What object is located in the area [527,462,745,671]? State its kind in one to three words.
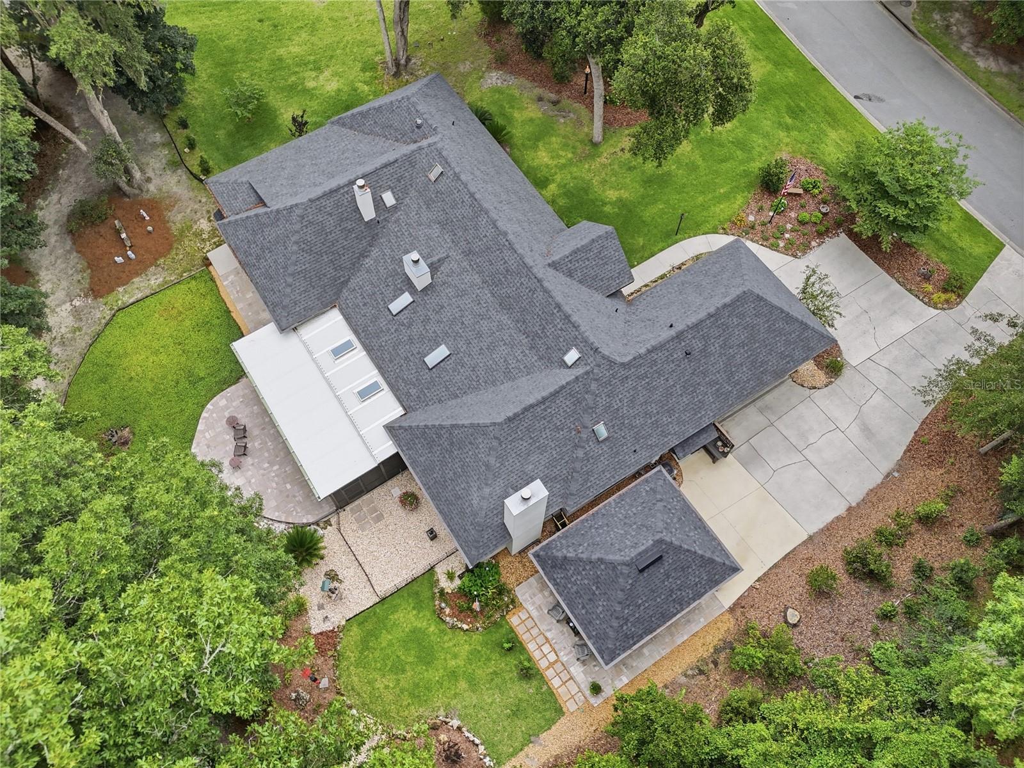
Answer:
building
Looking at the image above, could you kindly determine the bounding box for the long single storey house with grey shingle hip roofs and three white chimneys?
[202,72,838,570]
